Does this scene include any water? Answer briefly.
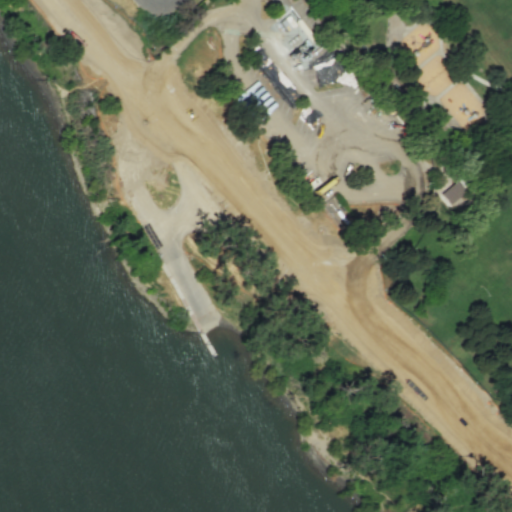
Yes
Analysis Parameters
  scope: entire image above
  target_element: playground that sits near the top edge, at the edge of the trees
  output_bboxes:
[404,24,486,127]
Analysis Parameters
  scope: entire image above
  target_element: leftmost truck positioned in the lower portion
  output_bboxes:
[406,378,429,400]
